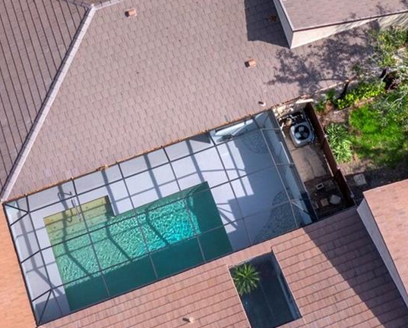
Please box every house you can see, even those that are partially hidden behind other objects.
[0,0,408,200]
[36,181,408,328]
